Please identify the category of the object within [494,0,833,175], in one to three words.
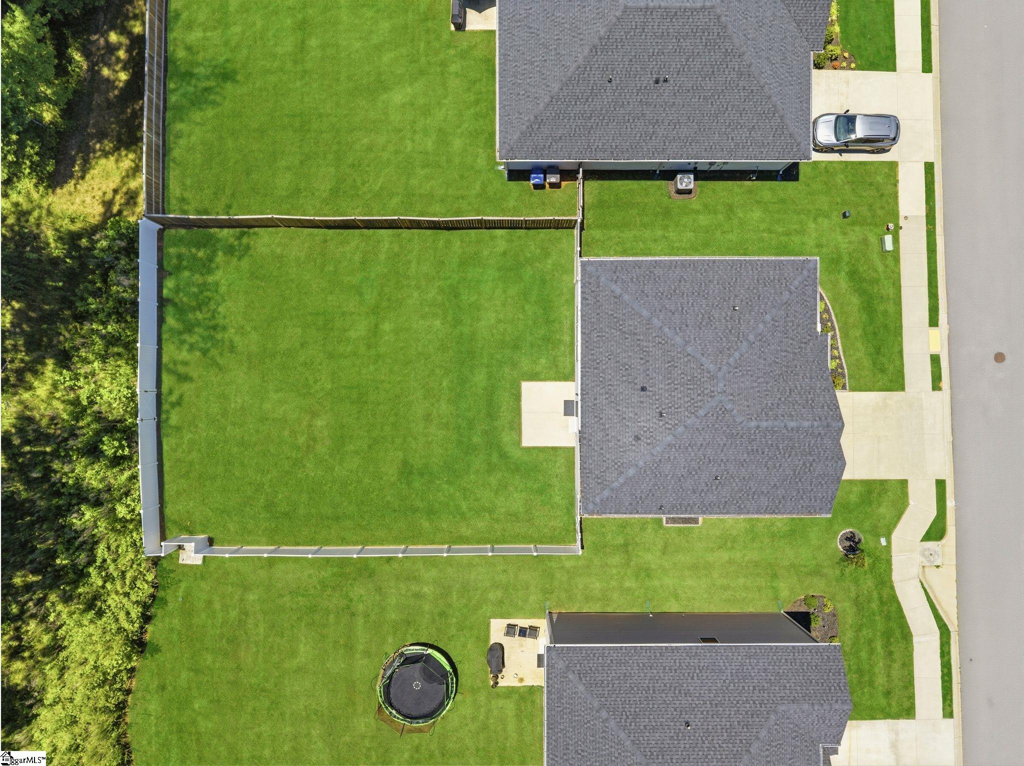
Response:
house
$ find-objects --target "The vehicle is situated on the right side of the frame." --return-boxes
[814,106,902,152]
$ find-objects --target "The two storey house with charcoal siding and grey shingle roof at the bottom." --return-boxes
[542,608,854,766]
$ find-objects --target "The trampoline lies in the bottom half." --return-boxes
[370,639,464,739]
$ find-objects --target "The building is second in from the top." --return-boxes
[574,256,847,518]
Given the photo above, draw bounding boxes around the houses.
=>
[494,0,833,175]
[574,256,847,518]
[542,608,854,766]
